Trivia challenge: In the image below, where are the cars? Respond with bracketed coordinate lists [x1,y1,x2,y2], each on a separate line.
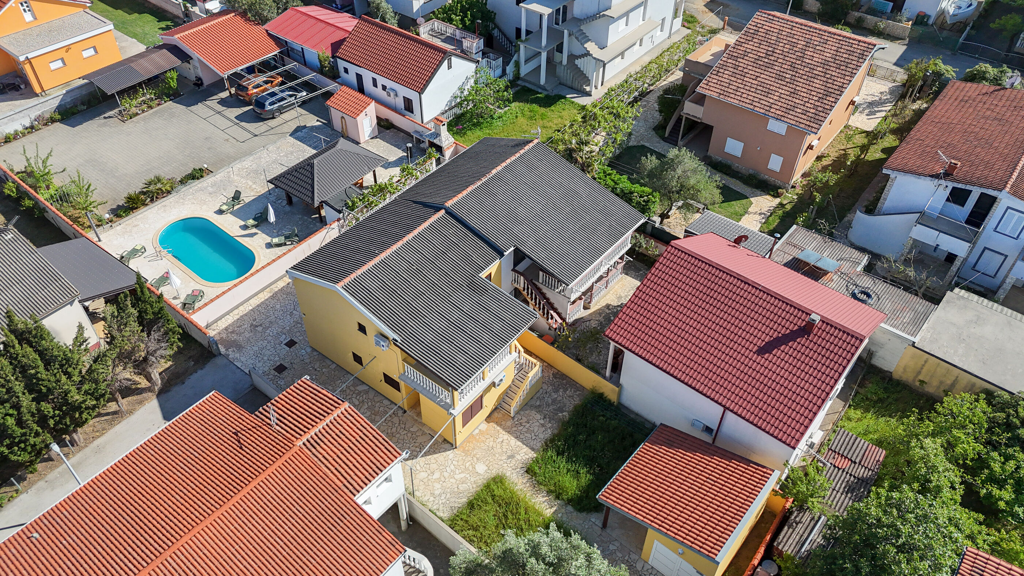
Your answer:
[235,71,292,104]
[250,83,313,119]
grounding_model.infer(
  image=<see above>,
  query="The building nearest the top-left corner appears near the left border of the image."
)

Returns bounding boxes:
[0,0,123,93]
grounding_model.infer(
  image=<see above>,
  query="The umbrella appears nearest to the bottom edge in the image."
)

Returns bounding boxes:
[165,265,182,298]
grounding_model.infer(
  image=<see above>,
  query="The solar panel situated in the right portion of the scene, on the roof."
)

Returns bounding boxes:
[783,243,842,282]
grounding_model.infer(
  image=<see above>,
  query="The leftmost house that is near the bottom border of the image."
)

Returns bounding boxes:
[0,373,446,576]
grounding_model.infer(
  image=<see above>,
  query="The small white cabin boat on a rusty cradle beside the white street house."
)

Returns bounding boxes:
[937,0,987,34]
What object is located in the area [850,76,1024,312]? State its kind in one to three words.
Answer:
house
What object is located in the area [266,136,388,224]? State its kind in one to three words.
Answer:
gazebo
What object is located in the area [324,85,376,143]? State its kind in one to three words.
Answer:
shed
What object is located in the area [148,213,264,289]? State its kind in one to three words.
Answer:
swimming pool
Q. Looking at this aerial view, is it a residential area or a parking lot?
residential area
